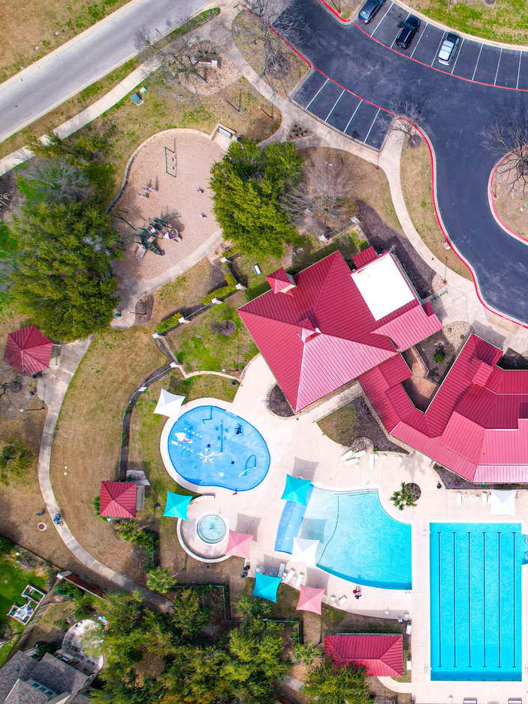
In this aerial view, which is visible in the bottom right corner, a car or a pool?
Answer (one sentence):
The one visible in the bottom right corner is a pool.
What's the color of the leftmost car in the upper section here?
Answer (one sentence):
From above, the leftmost car in the upper section appears blue.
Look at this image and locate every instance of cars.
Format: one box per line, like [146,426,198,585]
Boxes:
[357,0,385,26]
[394,14,420,49]
[439,33,459,69]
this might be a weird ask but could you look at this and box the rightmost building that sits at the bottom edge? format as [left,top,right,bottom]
[324,635,404,677]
